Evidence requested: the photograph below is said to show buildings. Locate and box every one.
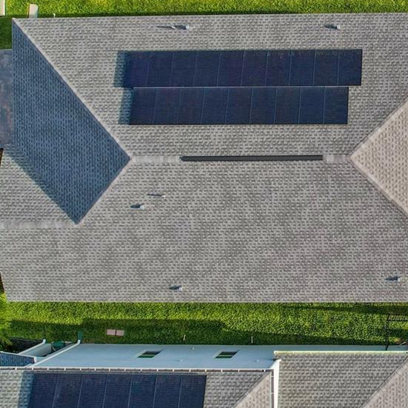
[0,14,408,301]
[0,336,408,408]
